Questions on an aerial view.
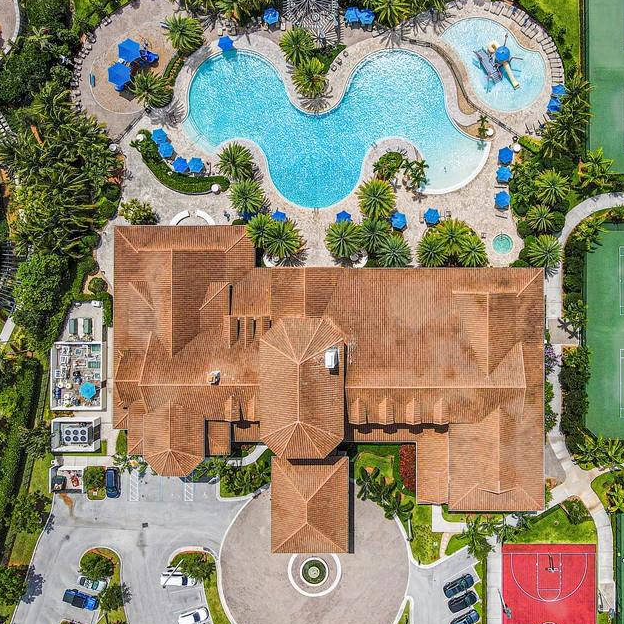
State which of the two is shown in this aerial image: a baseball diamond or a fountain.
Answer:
fountain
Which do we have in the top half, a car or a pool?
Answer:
pool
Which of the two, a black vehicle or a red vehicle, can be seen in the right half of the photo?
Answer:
black vehicle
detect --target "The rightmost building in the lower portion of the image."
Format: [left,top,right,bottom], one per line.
[114,226,544,552]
